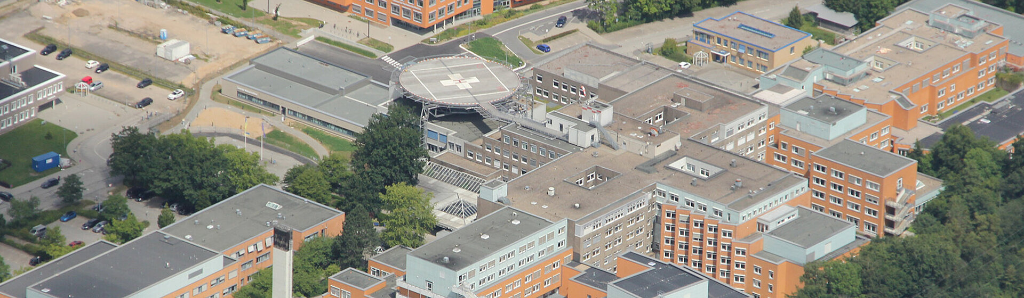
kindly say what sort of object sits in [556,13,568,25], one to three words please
vehicle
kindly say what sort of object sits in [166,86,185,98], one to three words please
vehicle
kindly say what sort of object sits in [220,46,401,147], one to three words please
building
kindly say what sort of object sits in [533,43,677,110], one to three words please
building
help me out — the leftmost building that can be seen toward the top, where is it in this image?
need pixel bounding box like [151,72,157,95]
[0,38,68,133]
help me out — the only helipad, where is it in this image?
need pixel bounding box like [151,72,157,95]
[391,55,573,171]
